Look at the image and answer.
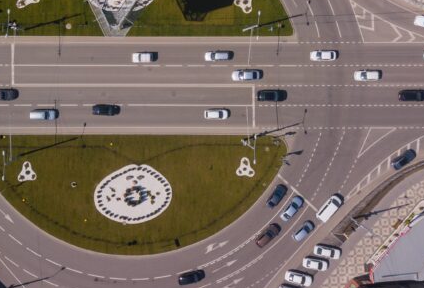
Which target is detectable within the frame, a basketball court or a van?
van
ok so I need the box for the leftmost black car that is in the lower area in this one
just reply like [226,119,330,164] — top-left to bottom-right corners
[177,268,206,286]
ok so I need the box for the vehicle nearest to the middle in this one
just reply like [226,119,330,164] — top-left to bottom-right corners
[203,109,229,121]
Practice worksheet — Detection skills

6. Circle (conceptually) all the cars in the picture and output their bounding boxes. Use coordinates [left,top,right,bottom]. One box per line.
[257,89,286,102]
[131,52,157,64]
[281,195,305,222]
[92,104,119,116]
[302,256,329,272]
[233,69,260,82]
[205,50,230,62]
[30,108,59,121]
[398,88,424,102]
[311,50,335,62]
[177,268,206,286]
[203,109,229,121]
[353,69,381,82]
[284,269,312,286]
[256,223,281,249]
[389,147,417,171]
[293,219,316,242]
[266,184,288,208]
[0,88,17,101]
[313,244,343,260]
[413,14,424,27]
